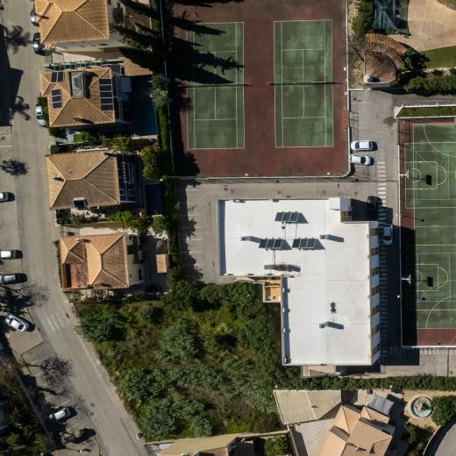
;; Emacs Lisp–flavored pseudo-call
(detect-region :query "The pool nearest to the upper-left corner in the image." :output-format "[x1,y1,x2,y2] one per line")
[136,98,159,137]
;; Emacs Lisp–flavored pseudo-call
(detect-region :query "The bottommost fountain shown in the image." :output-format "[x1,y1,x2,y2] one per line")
[410,395,433,420]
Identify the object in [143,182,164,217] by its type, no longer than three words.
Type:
swimming pool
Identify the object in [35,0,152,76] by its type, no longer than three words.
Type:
house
